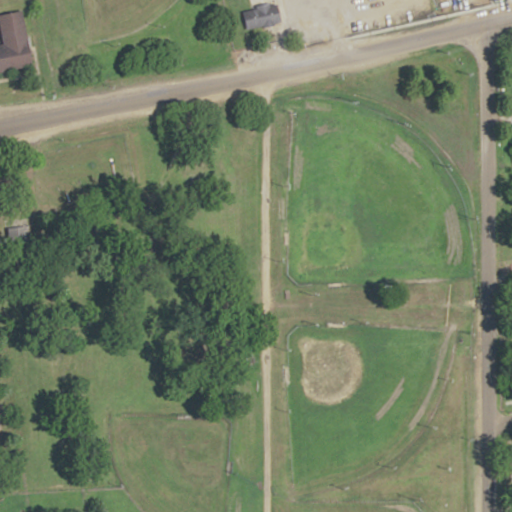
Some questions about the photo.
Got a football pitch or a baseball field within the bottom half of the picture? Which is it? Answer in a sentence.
There is a baseball field within the bottom half of the picture.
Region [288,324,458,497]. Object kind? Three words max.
baseball field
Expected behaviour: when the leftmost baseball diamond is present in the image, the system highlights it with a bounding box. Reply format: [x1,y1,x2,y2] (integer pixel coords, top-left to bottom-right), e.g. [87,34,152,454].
[107,413,231,512]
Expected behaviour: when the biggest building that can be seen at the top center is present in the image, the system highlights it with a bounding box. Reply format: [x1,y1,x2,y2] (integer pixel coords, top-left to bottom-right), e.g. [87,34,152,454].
[244,2,281,30]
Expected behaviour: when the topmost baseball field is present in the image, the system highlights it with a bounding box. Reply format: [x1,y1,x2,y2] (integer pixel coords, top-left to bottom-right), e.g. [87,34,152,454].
[285,96,476,286]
